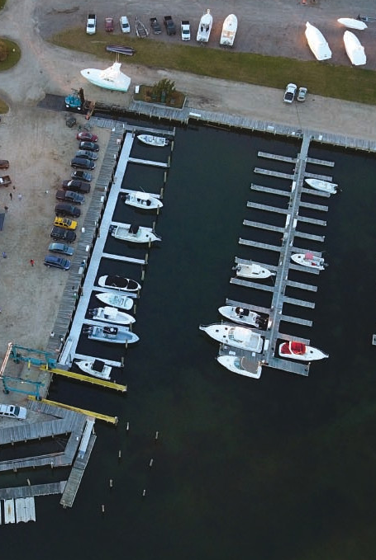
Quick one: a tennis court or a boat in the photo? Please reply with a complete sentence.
I can see a boat in this picture.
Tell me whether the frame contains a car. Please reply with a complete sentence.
Yes, a car is visible in the scene.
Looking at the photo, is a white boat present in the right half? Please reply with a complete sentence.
Yes, there is a white boat in the right half.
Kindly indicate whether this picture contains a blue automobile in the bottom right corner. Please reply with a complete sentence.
No, no blue automobile is visible in the bottom right corner.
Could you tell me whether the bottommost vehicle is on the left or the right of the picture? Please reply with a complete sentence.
The bottommost vehicle is on the left side of the image.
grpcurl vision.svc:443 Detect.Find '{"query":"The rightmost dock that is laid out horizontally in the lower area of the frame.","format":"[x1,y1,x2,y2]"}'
[219,345,309,376]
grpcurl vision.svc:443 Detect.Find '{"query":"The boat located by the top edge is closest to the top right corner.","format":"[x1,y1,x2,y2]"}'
[337,17,368,34]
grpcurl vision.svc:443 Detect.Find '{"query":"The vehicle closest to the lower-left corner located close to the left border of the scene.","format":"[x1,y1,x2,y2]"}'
[0,401,29,422]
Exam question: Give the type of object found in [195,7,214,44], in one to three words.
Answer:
boat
